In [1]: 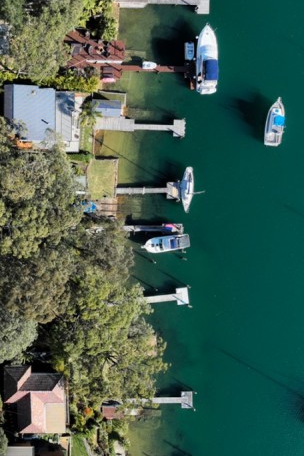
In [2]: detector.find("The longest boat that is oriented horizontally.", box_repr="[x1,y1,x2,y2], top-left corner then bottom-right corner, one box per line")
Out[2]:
[139,233,192,253]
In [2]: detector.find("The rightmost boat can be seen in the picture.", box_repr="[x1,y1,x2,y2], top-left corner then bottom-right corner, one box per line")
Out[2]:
[264,94,287,145]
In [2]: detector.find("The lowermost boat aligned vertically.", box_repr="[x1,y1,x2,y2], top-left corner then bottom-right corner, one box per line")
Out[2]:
[181,166,204,213]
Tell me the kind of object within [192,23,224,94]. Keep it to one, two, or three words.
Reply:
boat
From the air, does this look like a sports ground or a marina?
marina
